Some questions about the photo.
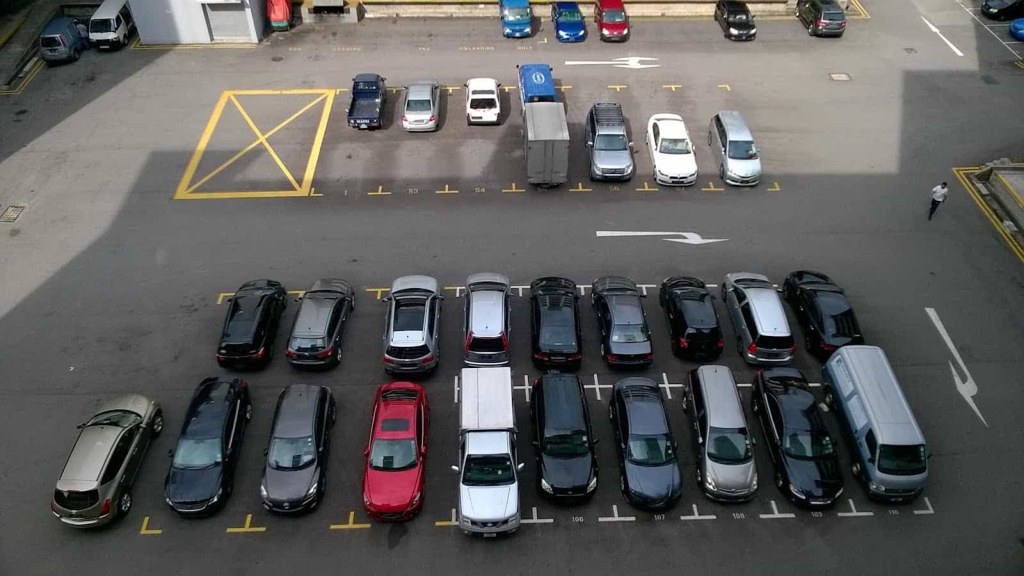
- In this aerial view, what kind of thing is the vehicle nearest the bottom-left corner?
automobile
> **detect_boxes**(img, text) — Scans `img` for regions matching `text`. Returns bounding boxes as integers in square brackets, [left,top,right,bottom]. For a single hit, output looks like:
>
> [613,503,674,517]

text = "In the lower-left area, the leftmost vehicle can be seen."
[43,397,166,533]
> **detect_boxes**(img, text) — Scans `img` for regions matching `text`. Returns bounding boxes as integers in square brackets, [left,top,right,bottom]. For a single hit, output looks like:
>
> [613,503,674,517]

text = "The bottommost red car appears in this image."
[357,382,432,523]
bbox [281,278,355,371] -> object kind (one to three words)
car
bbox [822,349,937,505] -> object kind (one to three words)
van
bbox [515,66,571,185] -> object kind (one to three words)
truck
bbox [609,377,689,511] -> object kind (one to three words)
car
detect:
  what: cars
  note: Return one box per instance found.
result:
[784,264,870,358]
[790,0,849,36]
[281,278,355,371]
[524,276,584,369]
[357,382,432,523]
[553,0,589,42]
[756,372,850,509]
[707,112,765,186]
[382,275,443,372]
[463,79,502,125]
[647,115,701,186]
[211,278,288,370]
[400,76,443,131]
[712,0,757,40]
[723,272,797,367]
[458,276,518,370]
[592,275,656,367]
[983,0,1024,22]
[252,383,336,515]
[530,375,603,505]
[43,397,166,533]
[661,275,726,361]
[594,0,632,42]
[585,97,635,179]
[500,0,535,37]
[609,377,689,511]
[682,369,763,503]
[38,15,95,59]
[159,378,253,519]
[1008,13,1024,37]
